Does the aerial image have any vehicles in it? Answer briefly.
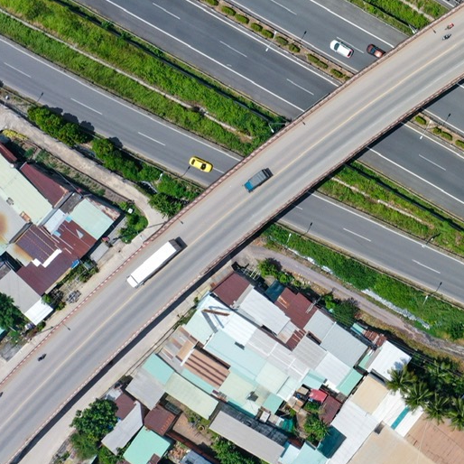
Yes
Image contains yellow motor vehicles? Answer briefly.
Yes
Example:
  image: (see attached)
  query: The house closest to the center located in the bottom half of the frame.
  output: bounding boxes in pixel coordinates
[211,270,254,304]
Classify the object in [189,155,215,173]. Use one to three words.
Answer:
car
